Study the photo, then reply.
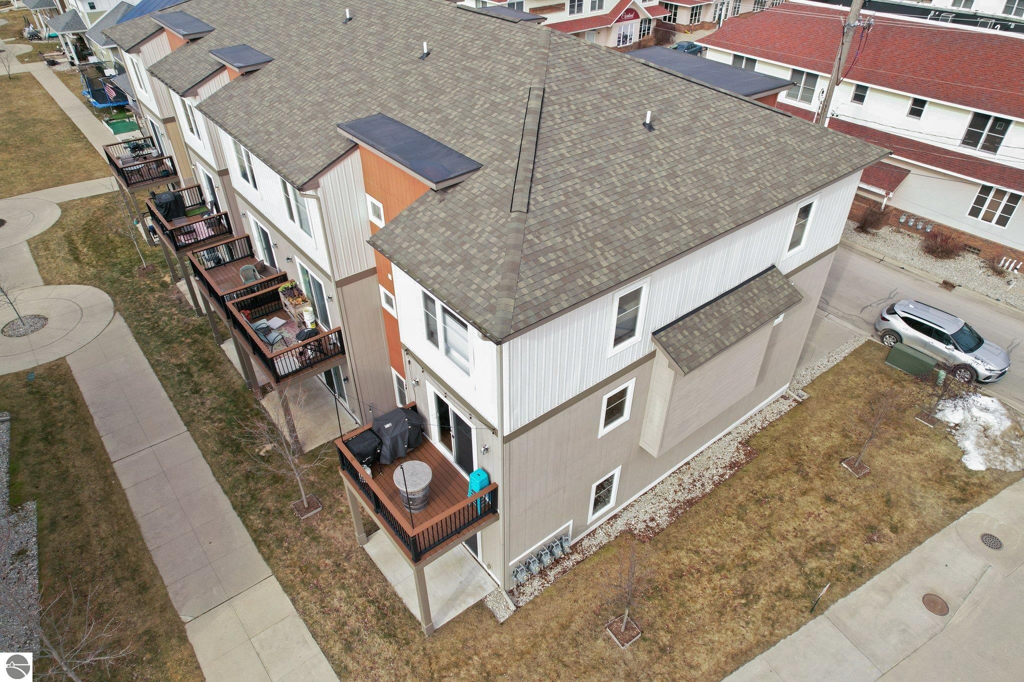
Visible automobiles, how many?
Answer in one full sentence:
There are 2 automobiles in the image.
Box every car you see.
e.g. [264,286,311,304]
[672,33,708,55]
[872,295,1019,386]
